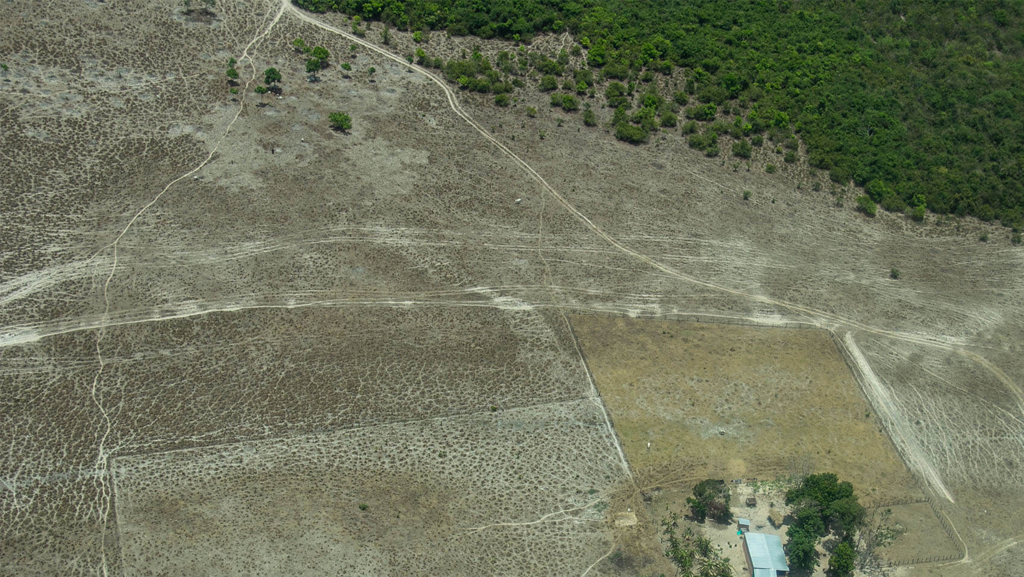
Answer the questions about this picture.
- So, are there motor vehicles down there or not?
No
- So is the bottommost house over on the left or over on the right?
right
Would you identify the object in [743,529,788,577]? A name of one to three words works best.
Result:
house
